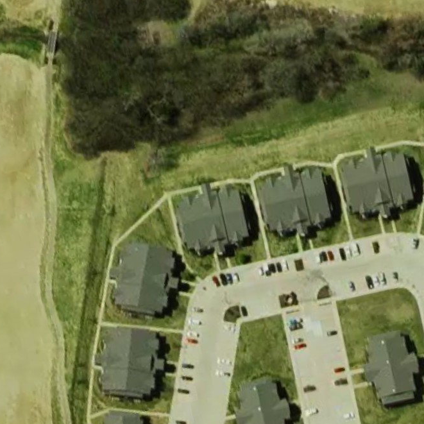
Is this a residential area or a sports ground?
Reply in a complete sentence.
It's a residential area.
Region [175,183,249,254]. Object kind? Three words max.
house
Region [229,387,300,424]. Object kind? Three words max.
house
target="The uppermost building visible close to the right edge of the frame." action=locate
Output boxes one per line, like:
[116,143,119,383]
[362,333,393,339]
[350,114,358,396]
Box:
[339,148,413,219]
